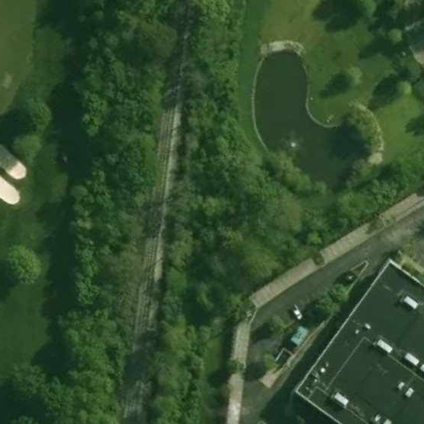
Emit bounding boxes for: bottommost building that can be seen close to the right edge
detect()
[297,261,424,424]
